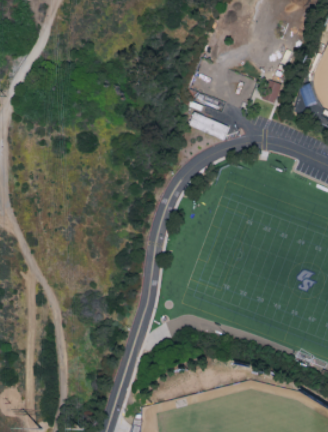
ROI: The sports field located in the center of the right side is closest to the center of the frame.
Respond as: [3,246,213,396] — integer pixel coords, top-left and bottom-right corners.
[154,154,328,361]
